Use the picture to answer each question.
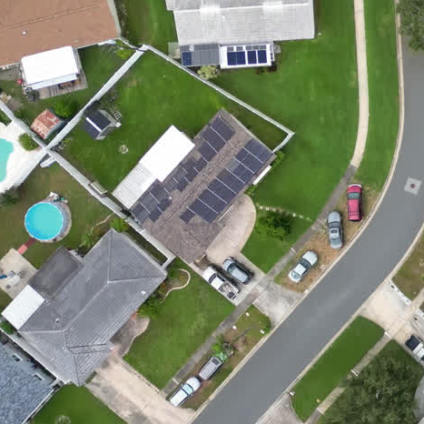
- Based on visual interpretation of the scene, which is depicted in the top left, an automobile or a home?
home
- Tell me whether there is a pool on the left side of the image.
Yes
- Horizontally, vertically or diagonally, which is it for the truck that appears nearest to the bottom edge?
diagonally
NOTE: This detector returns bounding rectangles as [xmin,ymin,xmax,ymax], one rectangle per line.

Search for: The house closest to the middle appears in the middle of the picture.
[113,108,277,265]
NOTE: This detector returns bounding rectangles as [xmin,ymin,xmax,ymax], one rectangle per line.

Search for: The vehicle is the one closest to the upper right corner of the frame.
[344,184,363,222]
